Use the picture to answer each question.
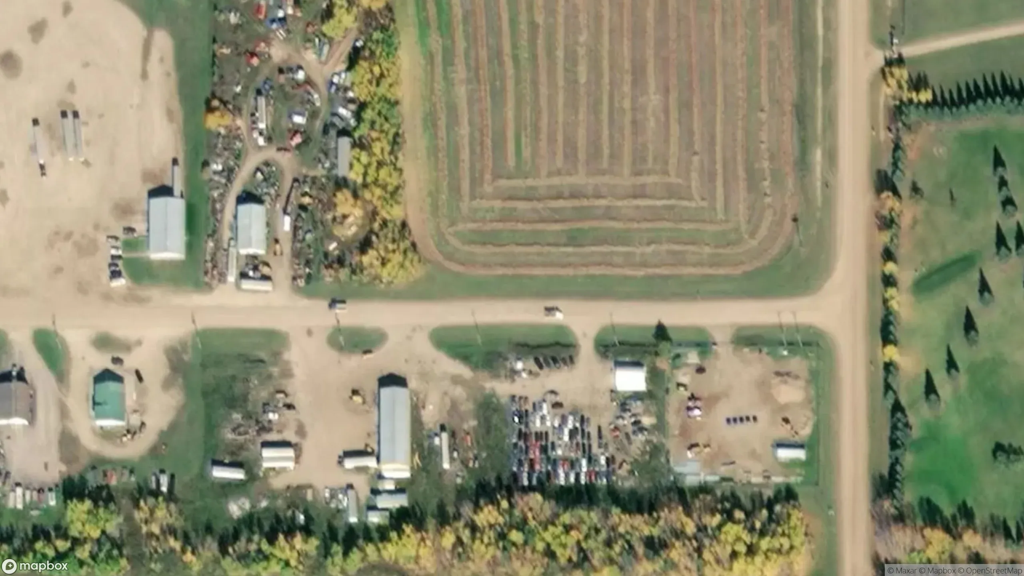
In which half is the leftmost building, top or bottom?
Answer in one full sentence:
It is in the bottom half that the leftmost building appears.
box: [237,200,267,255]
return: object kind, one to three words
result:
shed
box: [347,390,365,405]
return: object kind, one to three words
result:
work vehicle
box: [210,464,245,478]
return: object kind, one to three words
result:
building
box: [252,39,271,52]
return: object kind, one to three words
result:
vehicle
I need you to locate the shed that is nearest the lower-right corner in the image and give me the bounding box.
[776,448,806,463]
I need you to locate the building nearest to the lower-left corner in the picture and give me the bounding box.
[0,378,36,421]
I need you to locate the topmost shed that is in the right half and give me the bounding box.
[615,364,647,396]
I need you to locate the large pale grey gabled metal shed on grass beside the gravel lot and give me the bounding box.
[148,194,187,260]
